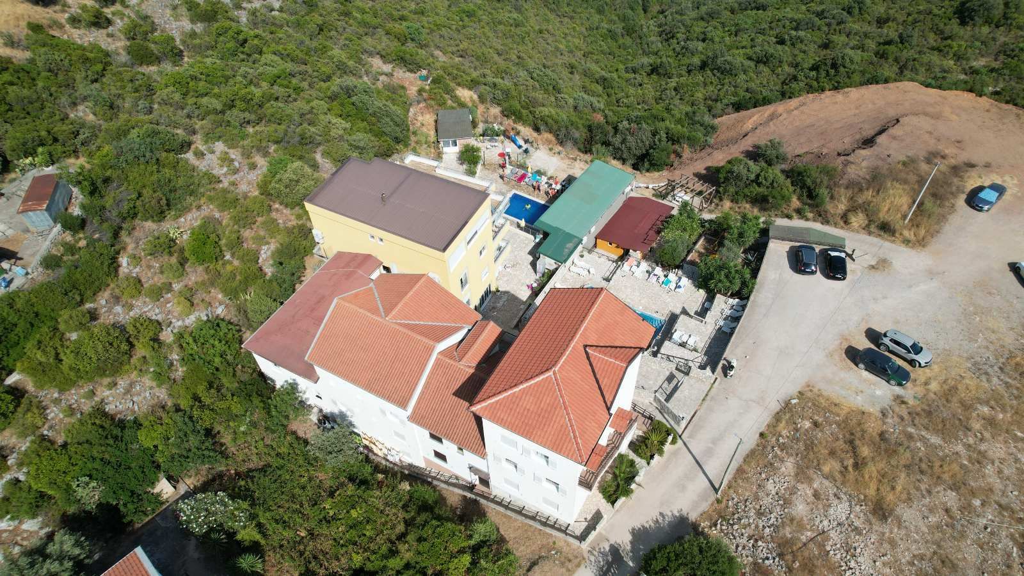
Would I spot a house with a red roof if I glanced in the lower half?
Yes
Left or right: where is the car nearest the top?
right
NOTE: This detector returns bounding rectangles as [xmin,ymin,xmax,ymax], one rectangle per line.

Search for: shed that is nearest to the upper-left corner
[18,174,61,230]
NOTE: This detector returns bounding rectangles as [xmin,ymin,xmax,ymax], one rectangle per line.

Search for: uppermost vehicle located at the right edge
[970,181,1009,211]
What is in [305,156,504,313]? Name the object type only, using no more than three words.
building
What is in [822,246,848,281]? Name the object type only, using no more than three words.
car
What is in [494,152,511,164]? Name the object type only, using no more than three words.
umbrella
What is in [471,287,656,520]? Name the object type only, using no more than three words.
house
